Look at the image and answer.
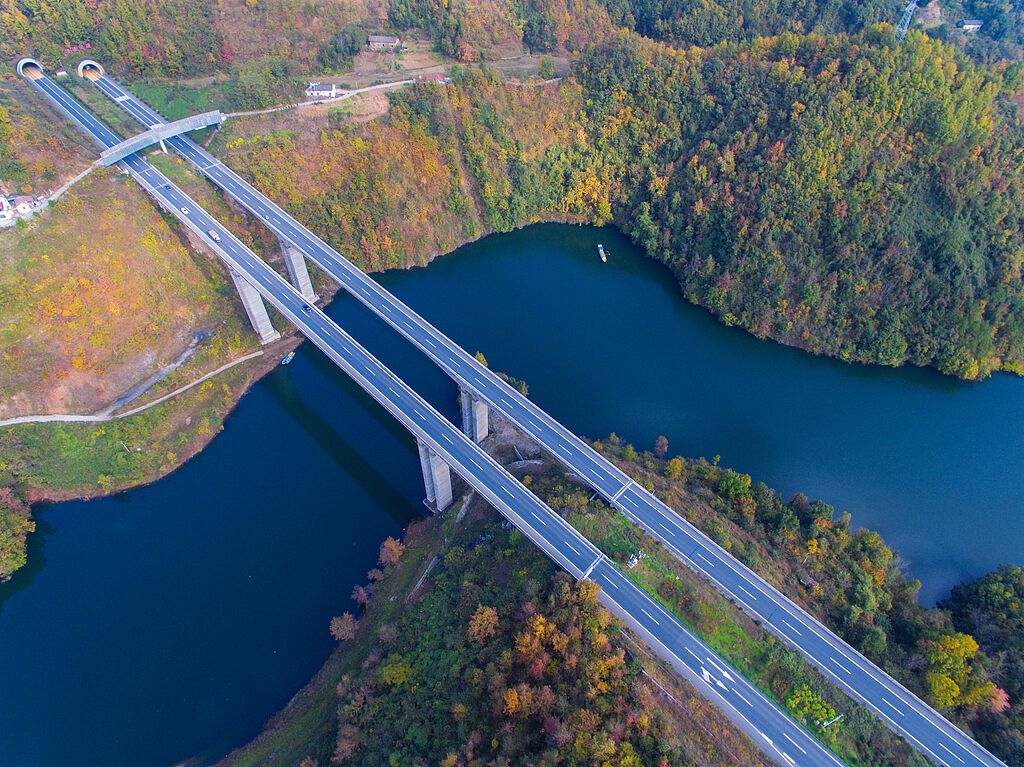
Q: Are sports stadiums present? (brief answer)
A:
No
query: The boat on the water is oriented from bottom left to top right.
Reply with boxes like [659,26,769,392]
[282,351,297,365]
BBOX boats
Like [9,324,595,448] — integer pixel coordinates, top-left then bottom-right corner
[597,244,611,262]
[282,351,297,365]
